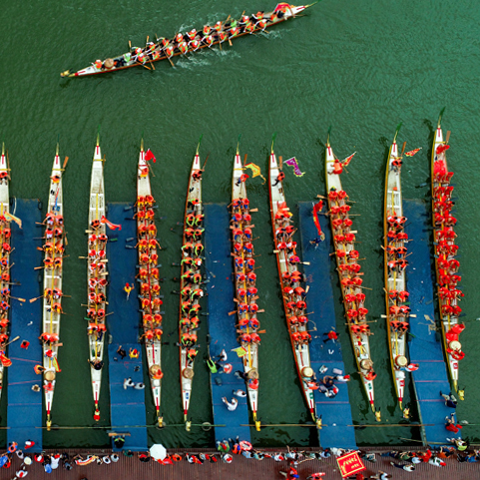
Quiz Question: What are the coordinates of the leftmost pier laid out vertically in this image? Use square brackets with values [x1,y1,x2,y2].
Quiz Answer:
[7,198,42,454]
